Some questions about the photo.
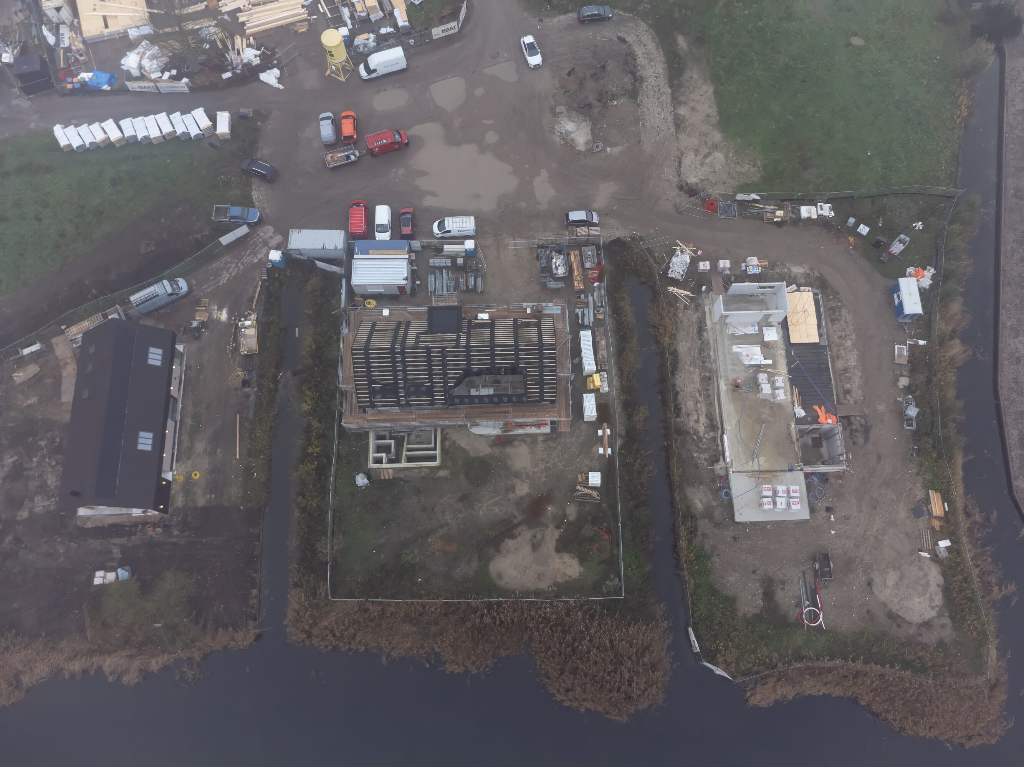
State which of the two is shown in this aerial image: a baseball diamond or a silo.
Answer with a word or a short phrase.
silo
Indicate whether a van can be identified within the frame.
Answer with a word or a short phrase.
Yes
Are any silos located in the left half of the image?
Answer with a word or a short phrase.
Yes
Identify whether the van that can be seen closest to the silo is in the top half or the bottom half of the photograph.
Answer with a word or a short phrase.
top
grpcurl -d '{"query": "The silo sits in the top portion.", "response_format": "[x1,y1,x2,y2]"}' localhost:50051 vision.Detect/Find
[319,20,355,80]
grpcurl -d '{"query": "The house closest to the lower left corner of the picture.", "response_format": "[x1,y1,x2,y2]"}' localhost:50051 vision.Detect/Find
[49,320,191,529]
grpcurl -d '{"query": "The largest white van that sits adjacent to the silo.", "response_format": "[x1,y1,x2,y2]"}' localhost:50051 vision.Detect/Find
[357,47,407,82]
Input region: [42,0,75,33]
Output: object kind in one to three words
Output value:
shed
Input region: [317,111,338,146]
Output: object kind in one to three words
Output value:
vehicle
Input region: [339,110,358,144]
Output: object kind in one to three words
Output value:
car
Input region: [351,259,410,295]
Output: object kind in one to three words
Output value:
building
